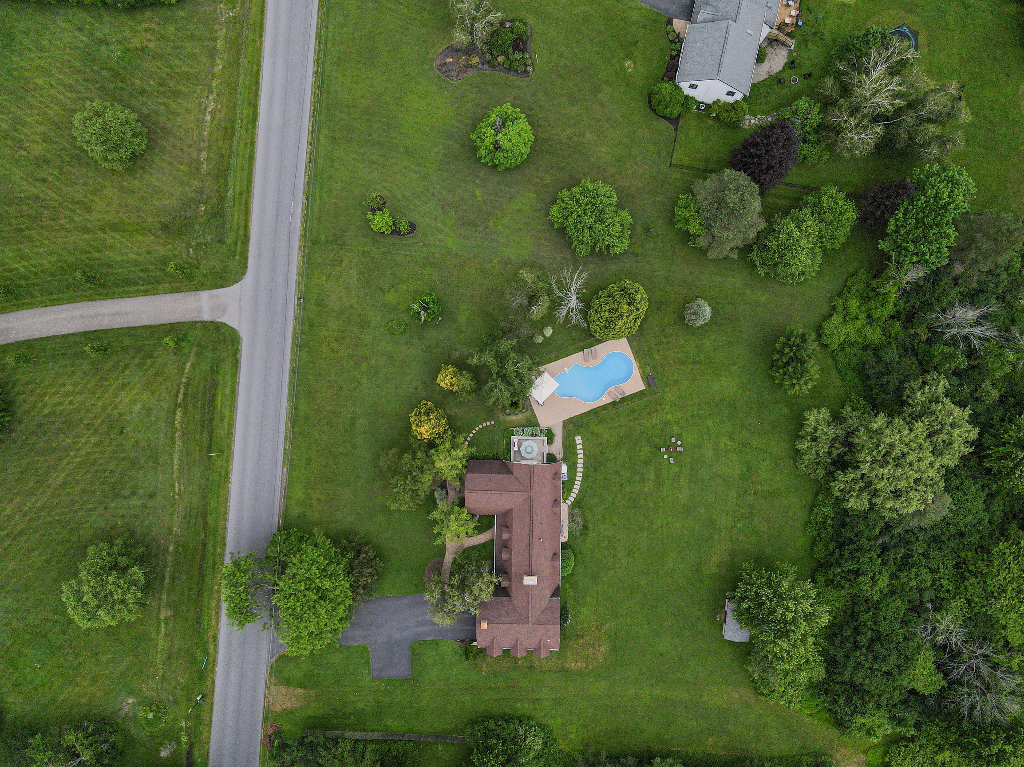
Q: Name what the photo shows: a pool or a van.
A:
pool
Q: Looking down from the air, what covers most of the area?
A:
grass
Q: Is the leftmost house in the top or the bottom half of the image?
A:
bottom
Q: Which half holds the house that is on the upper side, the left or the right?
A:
right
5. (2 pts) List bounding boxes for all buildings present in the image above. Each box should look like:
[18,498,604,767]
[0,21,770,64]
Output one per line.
[675,0,780,104]
[717,605,752,648]
[465,460,563,658]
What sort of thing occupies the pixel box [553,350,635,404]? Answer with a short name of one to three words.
swimming pool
